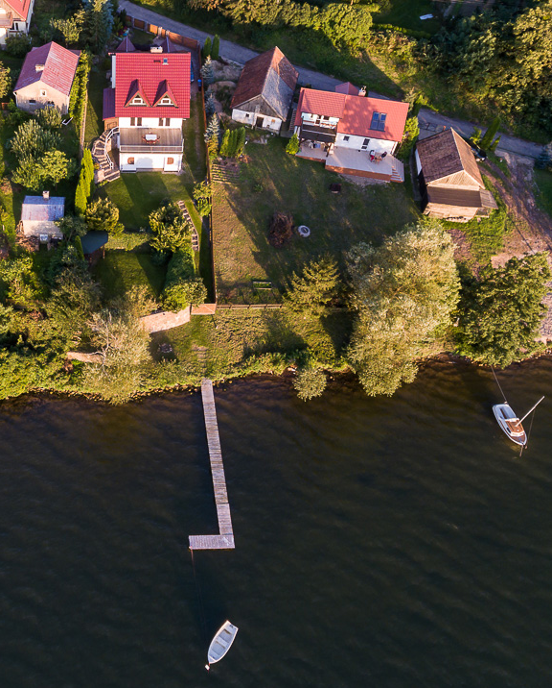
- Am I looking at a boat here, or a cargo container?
boat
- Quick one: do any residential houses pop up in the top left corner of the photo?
Yes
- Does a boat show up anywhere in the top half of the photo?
No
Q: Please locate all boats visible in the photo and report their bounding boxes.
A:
[492,391,536,455]
[209,619,239,664]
